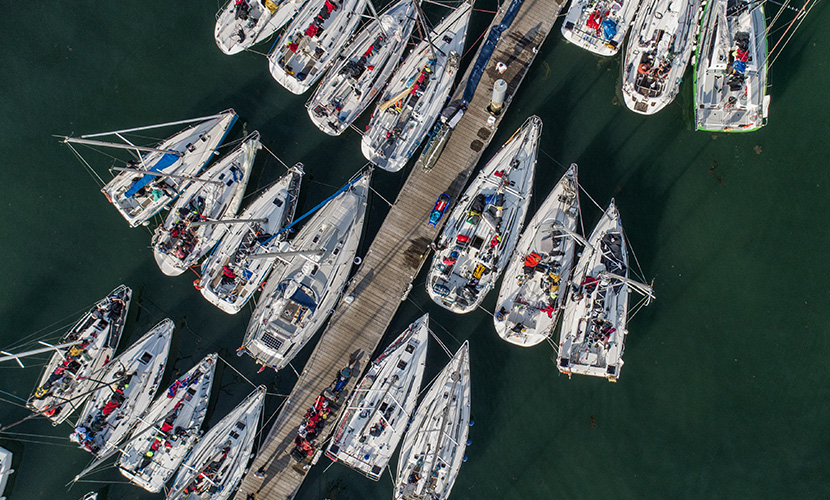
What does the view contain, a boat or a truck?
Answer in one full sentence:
I can see a boat in this picture.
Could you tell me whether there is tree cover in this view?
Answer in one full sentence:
No, there's no tree cover in this view.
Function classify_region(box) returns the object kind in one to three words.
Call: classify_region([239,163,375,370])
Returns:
boat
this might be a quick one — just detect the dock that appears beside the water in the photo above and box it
[234,0,567,500]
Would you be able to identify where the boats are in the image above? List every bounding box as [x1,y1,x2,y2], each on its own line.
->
[220,0,308,52]
[693,0,813,132]
[0,318,178,455]
[271,0,366,91]
[558,197,662,378]
[624,0,708,114]
[103,128,262,276]
[432,113,539,314]
[563,0,649,54]
[71,353,220,492]
[365,0,476,169]
[0,284,135,421]
[327,313,430,475]
[182,159,303,310]
[496,163,600,348]
[239,163,375,370]
[313,0,420,130]
[163,382,267,500]
[400,340,473,500]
